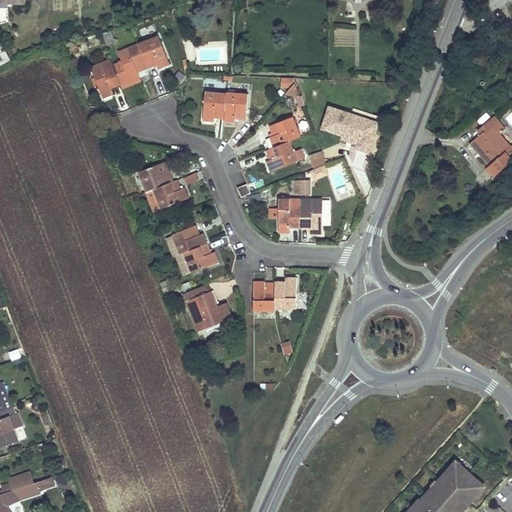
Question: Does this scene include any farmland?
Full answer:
Yes, the picture does contain farmland.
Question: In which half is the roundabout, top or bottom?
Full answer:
The bottom half of the photo is where the roundabout is.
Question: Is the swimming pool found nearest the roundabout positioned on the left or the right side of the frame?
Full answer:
The swimming pool found nearest the roundabout sits on the right side.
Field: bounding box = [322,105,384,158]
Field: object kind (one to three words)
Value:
house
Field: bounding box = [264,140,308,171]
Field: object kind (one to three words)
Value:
house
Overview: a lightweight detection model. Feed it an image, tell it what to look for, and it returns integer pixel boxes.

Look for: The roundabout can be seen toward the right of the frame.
[340,278,450,390]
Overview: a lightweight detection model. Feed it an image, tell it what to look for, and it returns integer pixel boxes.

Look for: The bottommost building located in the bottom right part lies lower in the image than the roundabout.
[411,461,486,512]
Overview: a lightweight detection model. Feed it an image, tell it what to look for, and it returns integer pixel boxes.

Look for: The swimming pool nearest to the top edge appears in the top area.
[195,41,228,65]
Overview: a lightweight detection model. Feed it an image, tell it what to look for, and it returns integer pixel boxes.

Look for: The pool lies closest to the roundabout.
[326,162,356,202]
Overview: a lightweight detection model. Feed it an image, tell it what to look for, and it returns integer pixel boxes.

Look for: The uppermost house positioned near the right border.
[470,110,512,176]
